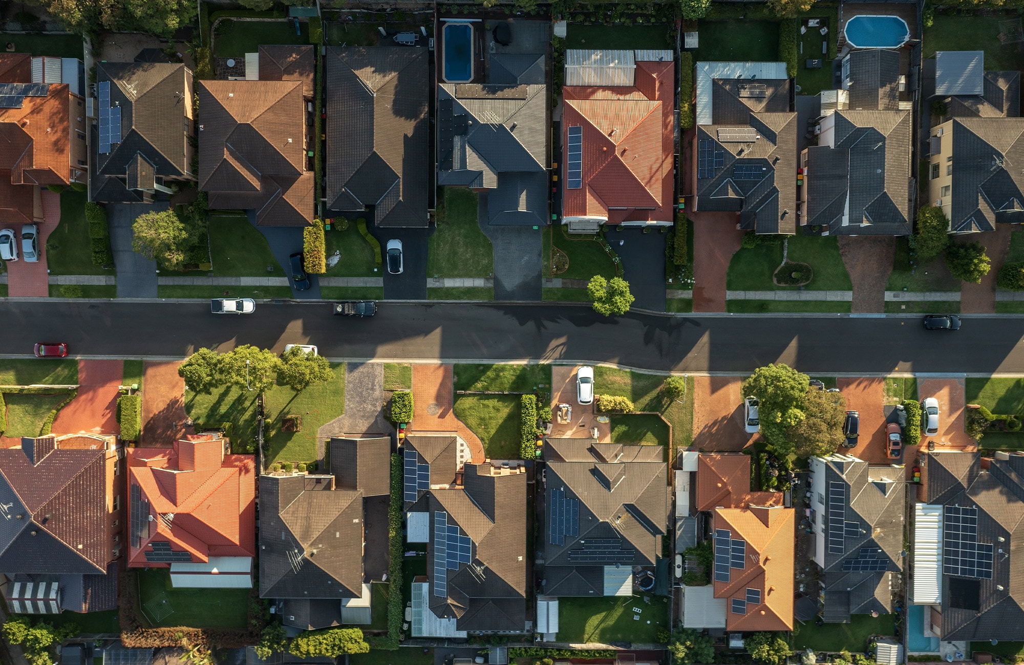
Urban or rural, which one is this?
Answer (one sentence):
This place is urban.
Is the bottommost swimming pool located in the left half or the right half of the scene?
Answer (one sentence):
You can find the bottommost swimming pool on the right side of the picture.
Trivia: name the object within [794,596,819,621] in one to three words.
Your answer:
umbrella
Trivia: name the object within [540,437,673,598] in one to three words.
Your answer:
house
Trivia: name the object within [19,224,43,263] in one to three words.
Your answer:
car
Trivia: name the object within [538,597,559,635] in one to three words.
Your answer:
shed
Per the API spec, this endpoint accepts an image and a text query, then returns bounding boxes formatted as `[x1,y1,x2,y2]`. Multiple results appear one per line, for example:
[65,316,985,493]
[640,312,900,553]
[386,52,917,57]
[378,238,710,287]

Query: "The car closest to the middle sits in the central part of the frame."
[576,365,595,405]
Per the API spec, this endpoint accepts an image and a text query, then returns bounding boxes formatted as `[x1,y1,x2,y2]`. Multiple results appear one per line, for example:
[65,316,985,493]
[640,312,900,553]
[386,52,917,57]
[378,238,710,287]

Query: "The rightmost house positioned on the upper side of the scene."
[932,69,1024,234]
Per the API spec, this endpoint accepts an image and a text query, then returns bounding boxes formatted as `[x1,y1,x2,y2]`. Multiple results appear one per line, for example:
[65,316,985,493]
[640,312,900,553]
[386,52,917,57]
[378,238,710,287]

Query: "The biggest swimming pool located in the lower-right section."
[907,603,941,652]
